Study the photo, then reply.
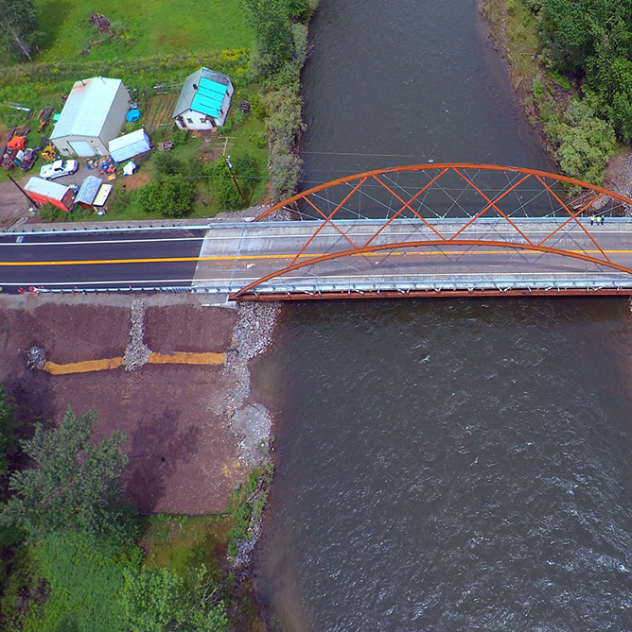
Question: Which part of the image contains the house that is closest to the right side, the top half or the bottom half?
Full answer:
The house that is closest to the right side sits in the top half of the picture.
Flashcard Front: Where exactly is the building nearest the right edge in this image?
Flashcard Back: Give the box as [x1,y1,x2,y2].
[169,73,226,132]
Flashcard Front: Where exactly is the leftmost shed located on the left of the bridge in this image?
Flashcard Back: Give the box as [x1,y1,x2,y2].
[23,172,79,210]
